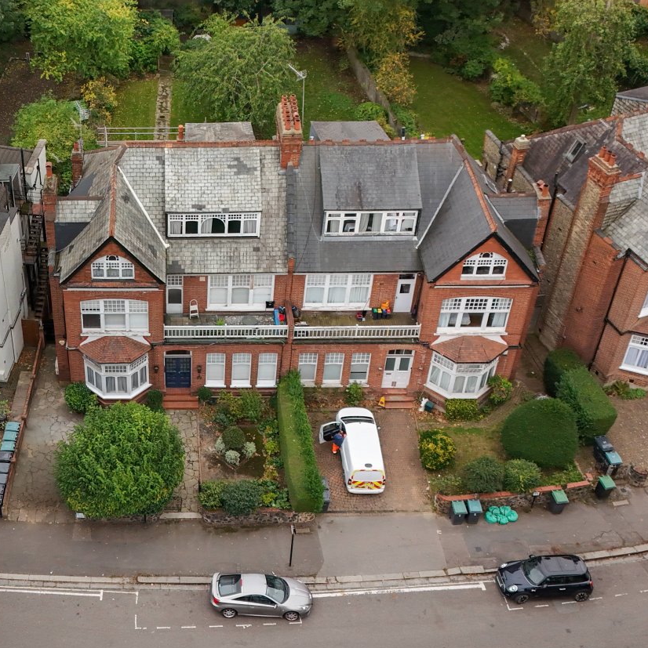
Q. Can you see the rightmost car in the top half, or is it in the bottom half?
bottom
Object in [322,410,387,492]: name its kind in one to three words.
van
